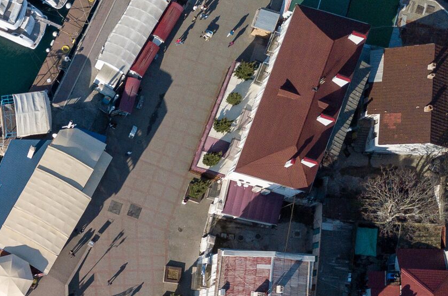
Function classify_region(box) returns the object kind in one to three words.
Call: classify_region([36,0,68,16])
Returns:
boat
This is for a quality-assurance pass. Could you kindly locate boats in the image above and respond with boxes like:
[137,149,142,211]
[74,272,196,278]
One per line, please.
[36,0,68,16]
[0,0,62,50]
